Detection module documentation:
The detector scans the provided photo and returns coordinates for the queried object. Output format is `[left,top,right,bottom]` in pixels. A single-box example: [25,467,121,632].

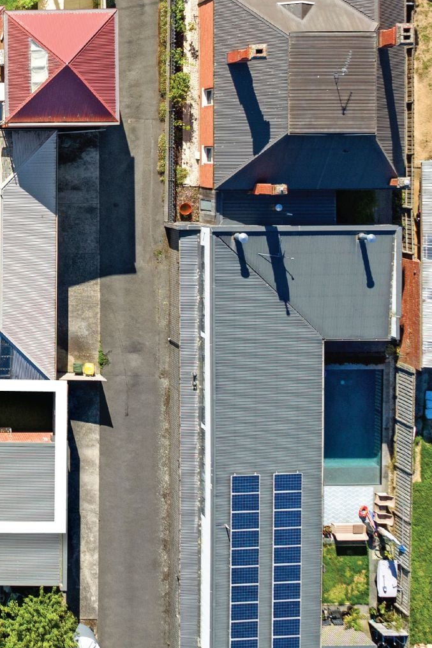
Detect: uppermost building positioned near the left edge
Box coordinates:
[0,1,121,124]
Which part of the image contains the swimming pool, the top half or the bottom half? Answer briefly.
bottom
